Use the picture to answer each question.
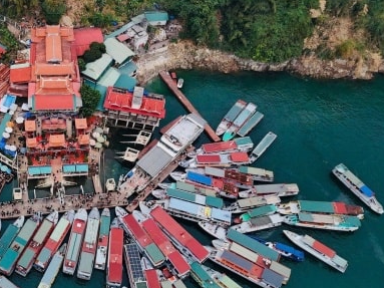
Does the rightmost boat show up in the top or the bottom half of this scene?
bottom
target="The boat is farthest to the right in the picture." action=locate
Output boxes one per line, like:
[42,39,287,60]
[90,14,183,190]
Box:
[330,165,384,211]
